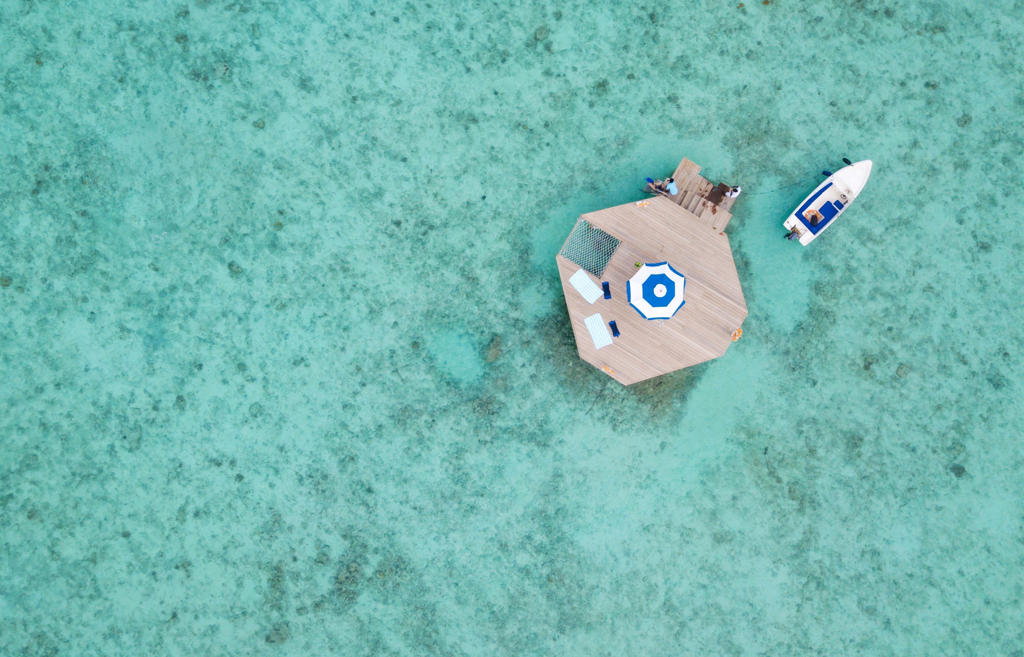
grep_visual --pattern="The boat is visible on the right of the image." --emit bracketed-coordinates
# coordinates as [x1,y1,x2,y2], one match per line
[783,159,873,246]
